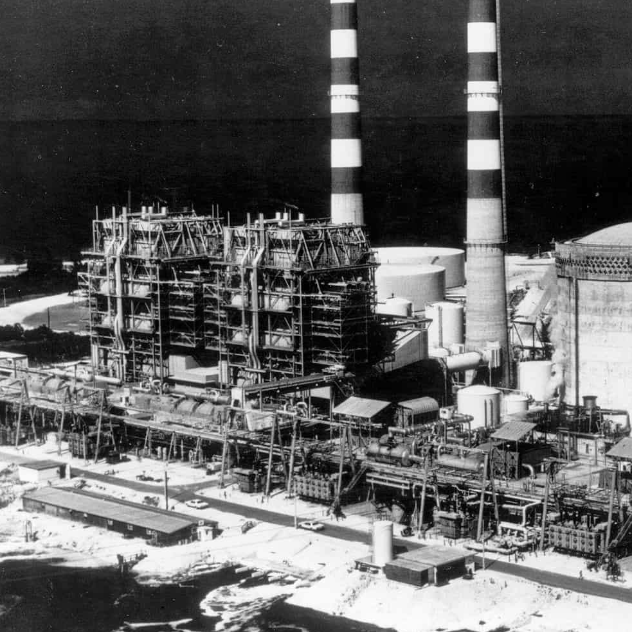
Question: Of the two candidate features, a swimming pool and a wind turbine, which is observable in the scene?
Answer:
wind turbine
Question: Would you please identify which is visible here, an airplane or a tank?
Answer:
tank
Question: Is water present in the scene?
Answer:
Yes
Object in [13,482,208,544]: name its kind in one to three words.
building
